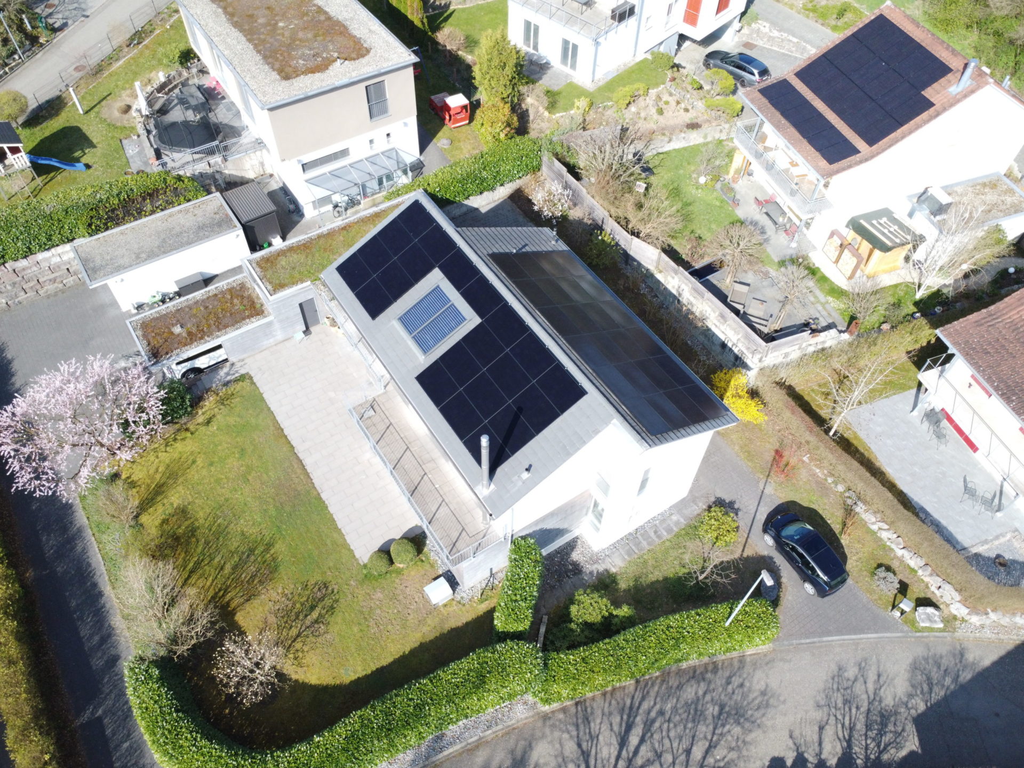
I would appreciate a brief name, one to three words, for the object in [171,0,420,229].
house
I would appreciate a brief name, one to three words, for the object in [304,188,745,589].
house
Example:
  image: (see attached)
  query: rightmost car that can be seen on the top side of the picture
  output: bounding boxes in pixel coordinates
[701,48,769,88]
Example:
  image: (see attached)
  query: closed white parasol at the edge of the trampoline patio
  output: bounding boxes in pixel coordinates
[133,81,151,118]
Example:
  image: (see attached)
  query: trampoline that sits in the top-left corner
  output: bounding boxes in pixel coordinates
[142,91,226,165]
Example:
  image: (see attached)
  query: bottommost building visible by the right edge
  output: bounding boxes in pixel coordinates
[911,287,1024,520]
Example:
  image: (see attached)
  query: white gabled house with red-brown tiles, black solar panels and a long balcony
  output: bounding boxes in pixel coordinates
[728,1,1024,249]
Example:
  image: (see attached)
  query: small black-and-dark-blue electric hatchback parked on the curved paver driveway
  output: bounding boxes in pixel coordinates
[761,510,854,600]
